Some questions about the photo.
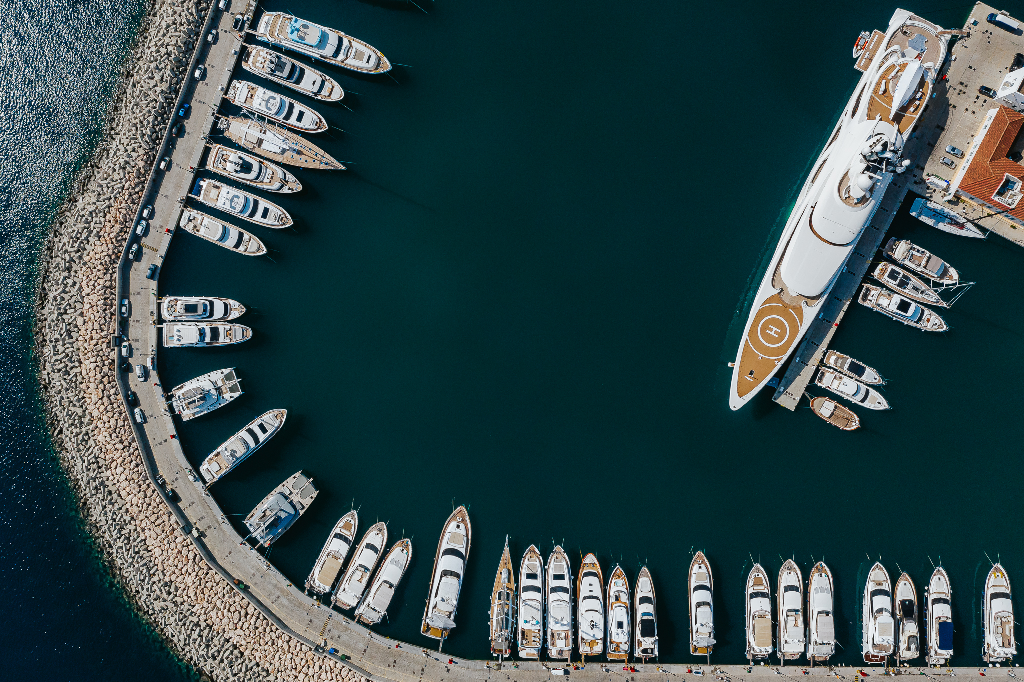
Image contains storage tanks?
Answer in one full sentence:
No, there isn't any storage tank down there.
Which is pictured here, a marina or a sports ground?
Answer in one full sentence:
This image shows a marina.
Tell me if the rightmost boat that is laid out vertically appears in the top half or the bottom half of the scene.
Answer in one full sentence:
The bottom half of the photo is where the rightmost boat that is laid out vertically is.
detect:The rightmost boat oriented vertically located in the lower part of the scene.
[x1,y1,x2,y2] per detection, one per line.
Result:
[978,552,1017,671]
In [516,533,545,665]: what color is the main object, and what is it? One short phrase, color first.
white boat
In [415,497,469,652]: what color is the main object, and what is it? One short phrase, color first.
white boat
